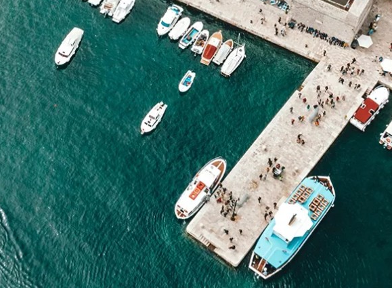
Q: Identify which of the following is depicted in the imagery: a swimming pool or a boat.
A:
boat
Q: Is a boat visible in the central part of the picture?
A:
Yes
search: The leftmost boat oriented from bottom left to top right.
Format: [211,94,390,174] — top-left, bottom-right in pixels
[52,25,88,68]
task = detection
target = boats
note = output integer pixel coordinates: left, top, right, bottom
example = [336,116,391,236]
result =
[198,29,223,68]
[52,25,88,68]
[88,0,104,7]
[156,3,186,36]
[188,30,210,57]
[212,39,234,67]
[174,156,227,224]
[177,21,203,52]
[111,0,136,27]
[167,17,190,41]
[351,86,389,133]
[99,0,118,16]
[140,100,169,134]
[219,28,247,80]
[378,122,392,152]
[179,69,194,93]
